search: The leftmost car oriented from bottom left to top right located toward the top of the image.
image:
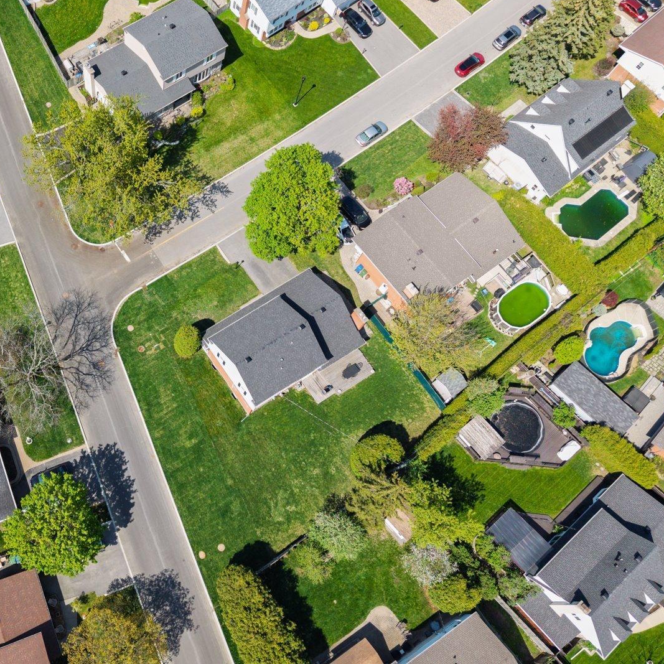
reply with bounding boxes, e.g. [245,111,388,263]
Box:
[355,121,389,147]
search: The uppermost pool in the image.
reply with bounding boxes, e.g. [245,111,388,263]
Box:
[554,188,632,240]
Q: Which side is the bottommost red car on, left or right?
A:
right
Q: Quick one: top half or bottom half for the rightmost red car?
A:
top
